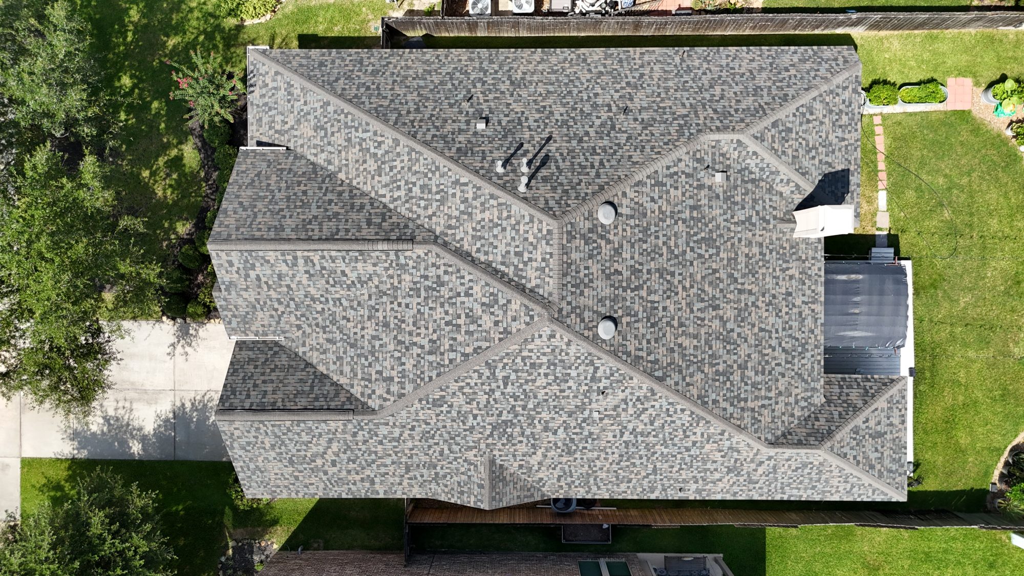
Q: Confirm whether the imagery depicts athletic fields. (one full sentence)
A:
No, there isn't any athletic field down there.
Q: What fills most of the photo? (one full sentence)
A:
The largest share of the image is taken up by buildings.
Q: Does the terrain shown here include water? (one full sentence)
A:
No, the scene doesn't show any water.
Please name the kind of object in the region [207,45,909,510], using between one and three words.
house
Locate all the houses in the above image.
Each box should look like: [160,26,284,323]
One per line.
[254,548,654,576]
[207,45,909,510]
